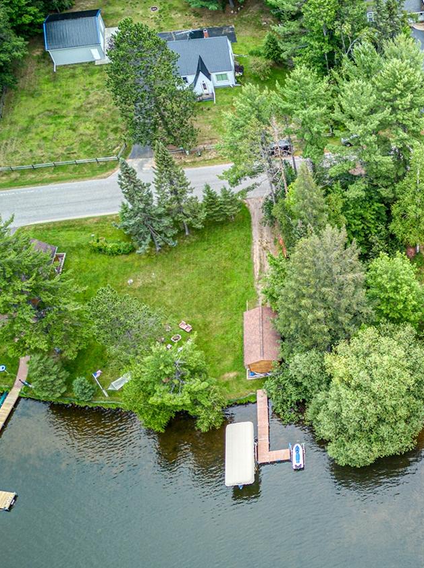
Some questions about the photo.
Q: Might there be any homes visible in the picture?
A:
Yes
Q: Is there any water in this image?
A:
Yes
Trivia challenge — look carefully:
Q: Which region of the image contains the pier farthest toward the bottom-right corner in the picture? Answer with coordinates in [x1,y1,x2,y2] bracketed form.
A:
[256,387,291,467]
